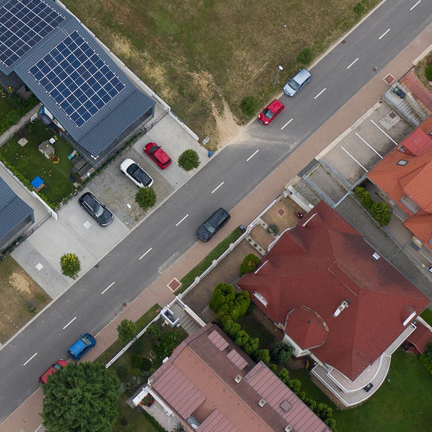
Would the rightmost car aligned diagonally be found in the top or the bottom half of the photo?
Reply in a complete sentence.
You can find the rightmost car aligned diagonally in the top half.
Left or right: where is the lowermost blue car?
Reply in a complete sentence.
It is on the left.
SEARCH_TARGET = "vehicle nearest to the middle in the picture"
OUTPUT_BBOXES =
[194,205,234,242]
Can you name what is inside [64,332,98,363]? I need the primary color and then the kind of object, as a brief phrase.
blue car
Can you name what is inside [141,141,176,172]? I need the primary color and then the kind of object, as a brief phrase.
red car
